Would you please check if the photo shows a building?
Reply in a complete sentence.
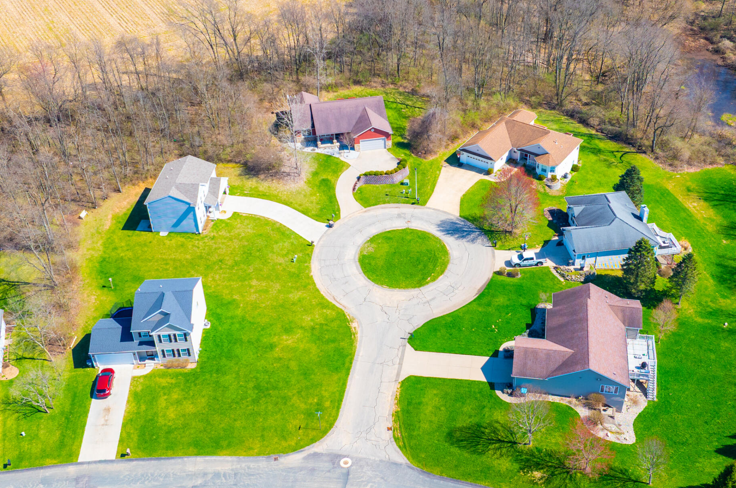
Yes, you can see a building in this photo.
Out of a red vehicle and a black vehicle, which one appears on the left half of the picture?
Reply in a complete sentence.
What appears on the left half of the picture is a red vehicle.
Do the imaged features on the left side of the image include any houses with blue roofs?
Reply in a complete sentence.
Yes, on the left side of the image there is a house with a blue roof.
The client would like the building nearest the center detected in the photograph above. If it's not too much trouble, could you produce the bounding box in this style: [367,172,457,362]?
[289,91,392,151]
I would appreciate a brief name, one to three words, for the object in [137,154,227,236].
house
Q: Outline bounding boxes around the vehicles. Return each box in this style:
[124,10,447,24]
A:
[509,250,549,268]
[93,368,113,397]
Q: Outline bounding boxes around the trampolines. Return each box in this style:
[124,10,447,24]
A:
[108,298,133,318]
